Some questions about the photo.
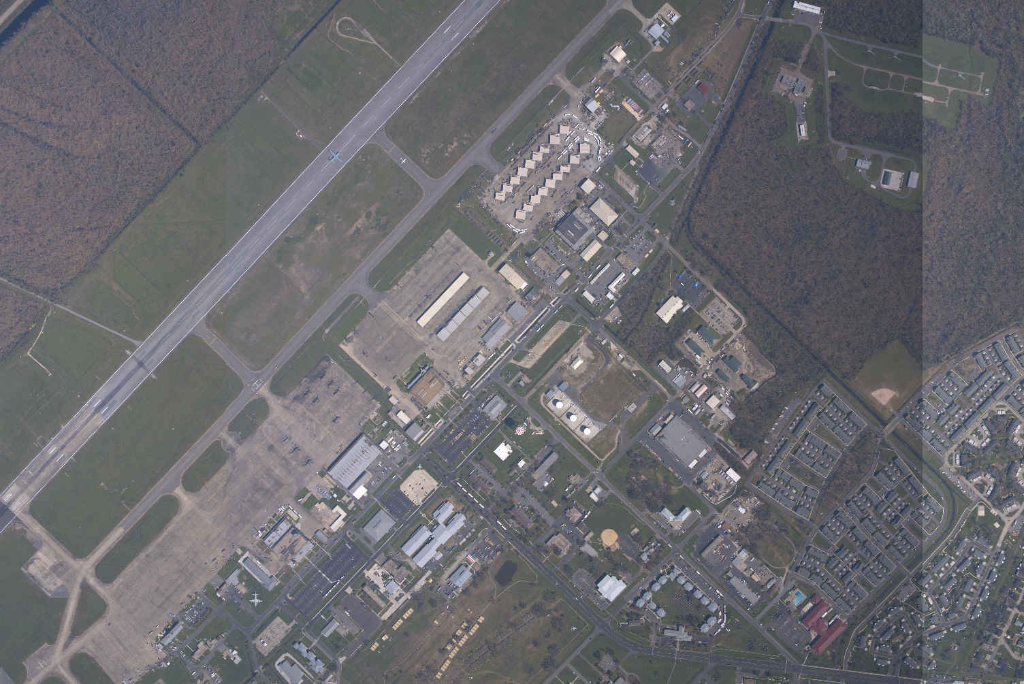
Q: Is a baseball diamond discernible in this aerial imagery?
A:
Yes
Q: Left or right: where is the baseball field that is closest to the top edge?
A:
right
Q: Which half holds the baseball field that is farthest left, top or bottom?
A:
bottom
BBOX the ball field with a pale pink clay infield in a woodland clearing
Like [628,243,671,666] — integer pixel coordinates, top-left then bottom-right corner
[861,346,919,418]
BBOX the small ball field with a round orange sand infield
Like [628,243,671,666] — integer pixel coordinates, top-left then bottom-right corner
[588,510,632,550]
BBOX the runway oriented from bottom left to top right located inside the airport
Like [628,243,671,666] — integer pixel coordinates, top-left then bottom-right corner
[0,0,501,515]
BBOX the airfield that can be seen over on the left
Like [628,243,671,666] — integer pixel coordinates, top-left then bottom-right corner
[0,0,680,684]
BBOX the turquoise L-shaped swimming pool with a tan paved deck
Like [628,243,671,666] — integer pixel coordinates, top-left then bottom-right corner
[785,588,807,606]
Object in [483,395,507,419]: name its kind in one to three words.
building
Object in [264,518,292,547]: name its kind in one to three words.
hangar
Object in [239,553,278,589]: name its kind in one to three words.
hangar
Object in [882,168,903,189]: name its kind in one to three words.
building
